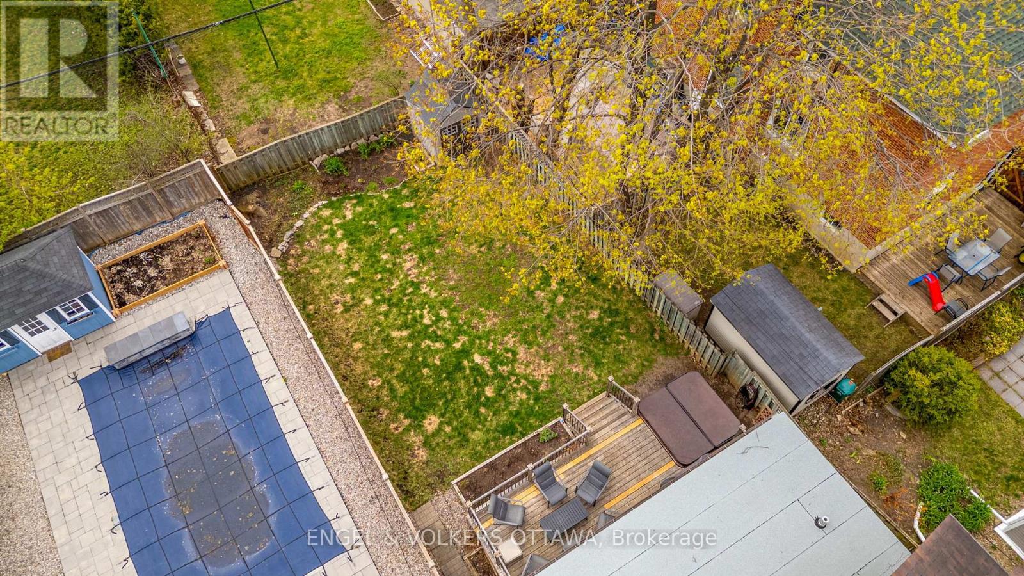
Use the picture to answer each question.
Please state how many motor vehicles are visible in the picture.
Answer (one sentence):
I count no motor vehicles.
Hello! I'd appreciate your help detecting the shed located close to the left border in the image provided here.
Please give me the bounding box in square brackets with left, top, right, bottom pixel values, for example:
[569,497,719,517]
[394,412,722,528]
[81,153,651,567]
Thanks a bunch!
[0,224,115,371]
